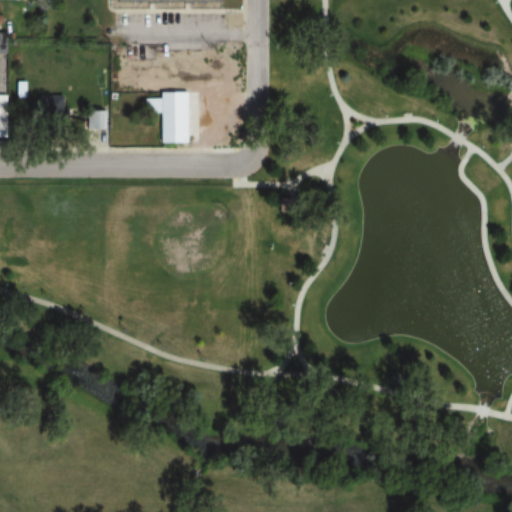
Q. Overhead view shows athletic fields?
Yes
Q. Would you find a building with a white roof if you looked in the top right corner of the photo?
No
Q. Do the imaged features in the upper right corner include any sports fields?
No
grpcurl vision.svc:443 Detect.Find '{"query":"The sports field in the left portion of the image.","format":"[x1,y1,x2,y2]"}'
[154,200,234,280]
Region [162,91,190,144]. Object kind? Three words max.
building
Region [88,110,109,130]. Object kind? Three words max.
house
